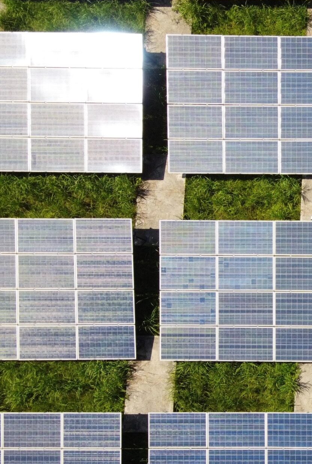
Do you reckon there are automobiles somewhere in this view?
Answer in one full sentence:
No, the photo shows no automobile.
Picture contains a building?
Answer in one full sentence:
No, the photo shows no building.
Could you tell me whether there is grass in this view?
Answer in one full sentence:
Yes, grass shows up in the scene.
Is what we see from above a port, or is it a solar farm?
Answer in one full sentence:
The area seen from above is a solar farm.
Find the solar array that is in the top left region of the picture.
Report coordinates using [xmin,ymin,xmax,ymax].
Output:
[0,33,157,173]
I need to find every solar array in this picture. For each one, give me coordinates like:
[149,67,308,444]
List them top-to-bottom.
[0,33,157,173]
[167,36,312,174]
[0,218,147,361]
[159,220,312,362]
[0,411,137,464]
[149,412,312,464]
